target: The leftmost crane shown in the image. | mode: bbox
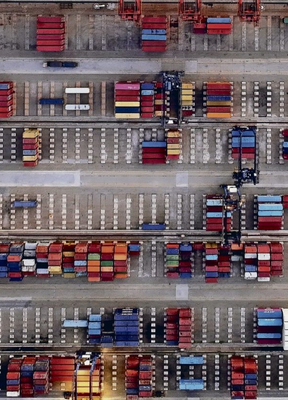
[71,348,103,400]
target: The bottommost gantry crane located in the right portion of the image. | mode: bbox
[215,184,246,249]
